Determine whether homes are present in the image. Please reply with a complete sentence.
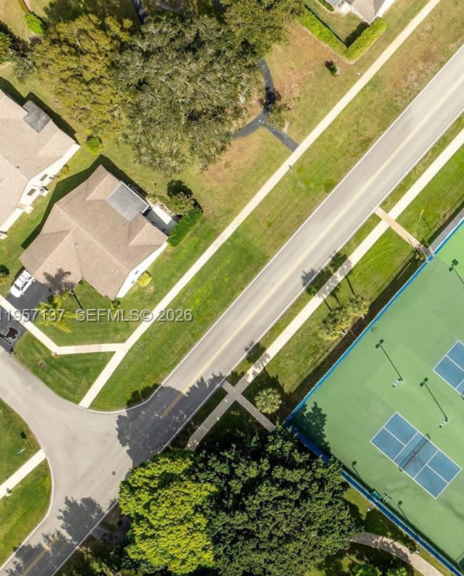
Yes, the picture does show a home.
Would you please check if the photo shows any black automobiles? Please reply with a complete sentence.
No, there's no black automobile here.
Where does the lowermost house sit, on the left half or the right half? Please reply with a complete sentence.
It is on the left.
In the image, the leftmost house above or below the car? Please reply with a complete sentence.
From this view, the leftmost house can be seen above the car.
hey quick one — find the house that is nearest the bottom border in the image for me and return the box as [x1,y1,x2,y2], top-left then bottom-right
[19,165,172,301]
